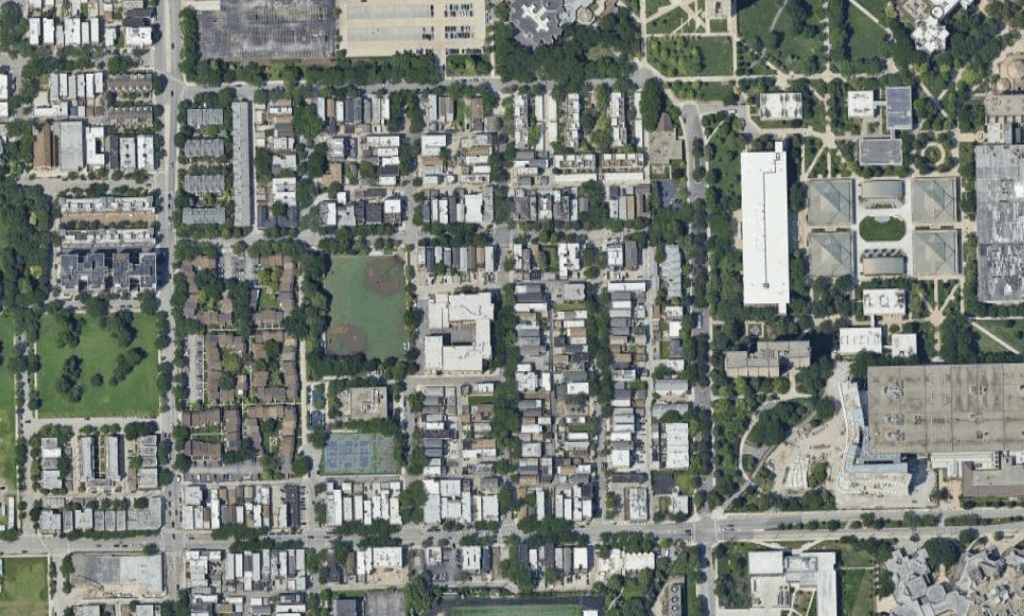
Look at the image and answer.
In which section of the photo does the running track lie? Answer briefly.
bottom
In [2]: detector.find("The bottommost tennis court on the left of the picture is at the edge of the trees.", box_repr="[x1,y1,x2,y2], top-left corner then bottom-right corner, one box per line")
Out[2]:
[324,433,396,475]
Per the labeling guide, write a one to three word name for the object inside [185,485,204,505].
house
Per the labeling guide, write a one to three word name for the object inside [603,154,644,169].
house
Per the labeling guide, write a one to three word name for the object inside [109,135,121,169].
building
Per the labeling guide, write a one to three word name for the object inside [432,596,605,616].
running track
